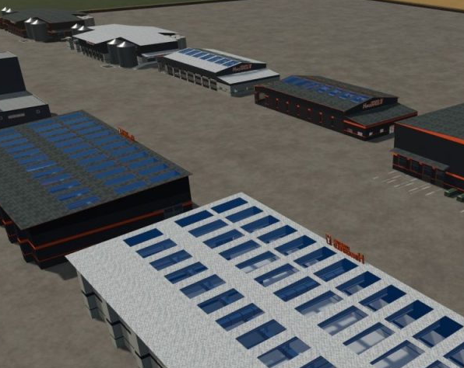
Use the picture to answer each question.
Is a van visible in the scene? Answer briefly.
No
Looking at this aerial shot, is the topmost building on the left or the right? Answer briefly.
left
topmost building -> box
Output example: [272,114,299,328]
[0,9,97,43]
